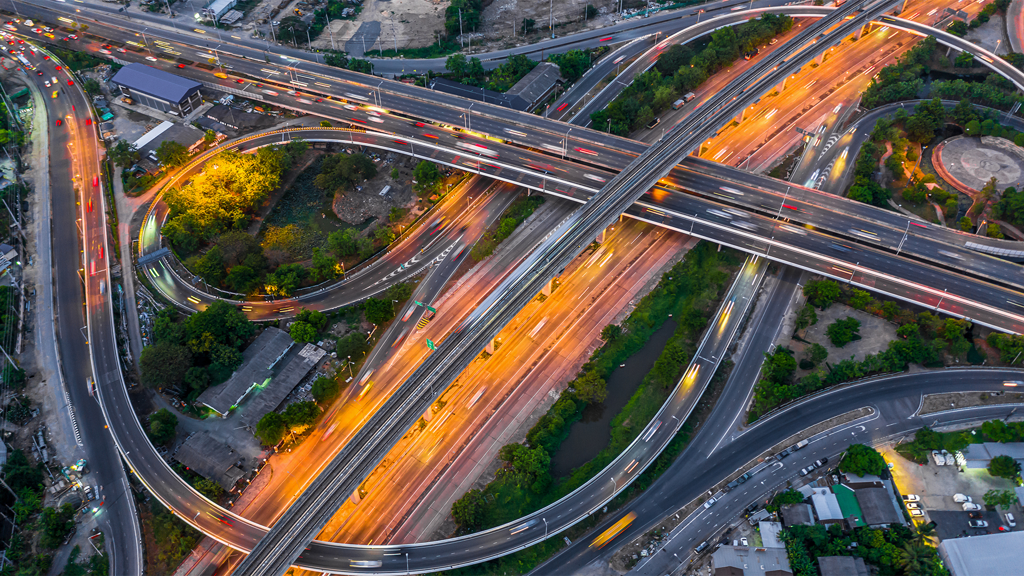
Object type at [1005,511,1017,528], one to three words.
vehicle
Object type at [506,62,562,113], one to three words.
house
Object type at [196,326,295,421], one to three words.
shed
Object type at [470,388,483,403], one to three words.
vehicle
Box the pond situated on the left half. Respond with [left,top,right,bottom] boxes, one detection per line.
[260,154,379,258]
